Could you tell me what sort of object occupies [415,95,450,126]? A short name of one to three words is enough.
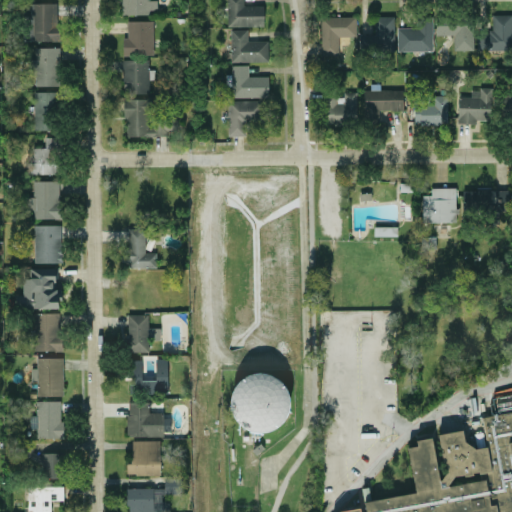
house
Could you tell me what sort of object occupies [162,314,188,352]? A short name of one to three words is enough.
swimming pool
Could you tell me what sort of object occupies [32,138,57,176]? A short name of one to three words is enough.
house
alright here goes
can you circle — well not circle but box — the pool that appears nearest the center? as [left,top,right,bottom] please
[158,234,184,252]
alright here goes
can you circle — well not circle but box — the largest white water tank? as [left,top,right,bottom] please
[232,374,290,434]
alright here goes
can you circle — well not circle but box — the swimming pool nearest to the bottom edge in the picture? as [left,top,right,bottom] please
[172,405,189,436]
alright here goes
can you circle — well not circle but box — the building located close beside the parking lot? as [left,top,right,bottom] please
[340,411,512,512]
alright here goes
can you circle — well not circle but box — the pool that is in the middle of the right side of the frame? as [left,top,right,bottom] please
[352,200,412,240]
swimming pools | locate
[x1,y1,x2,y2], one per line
[162,314,188,352]
[172,405,189,436]
[143,356,158,382]
[158,234,184,252]
[12,373,23,384]
[352,200,412,240]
